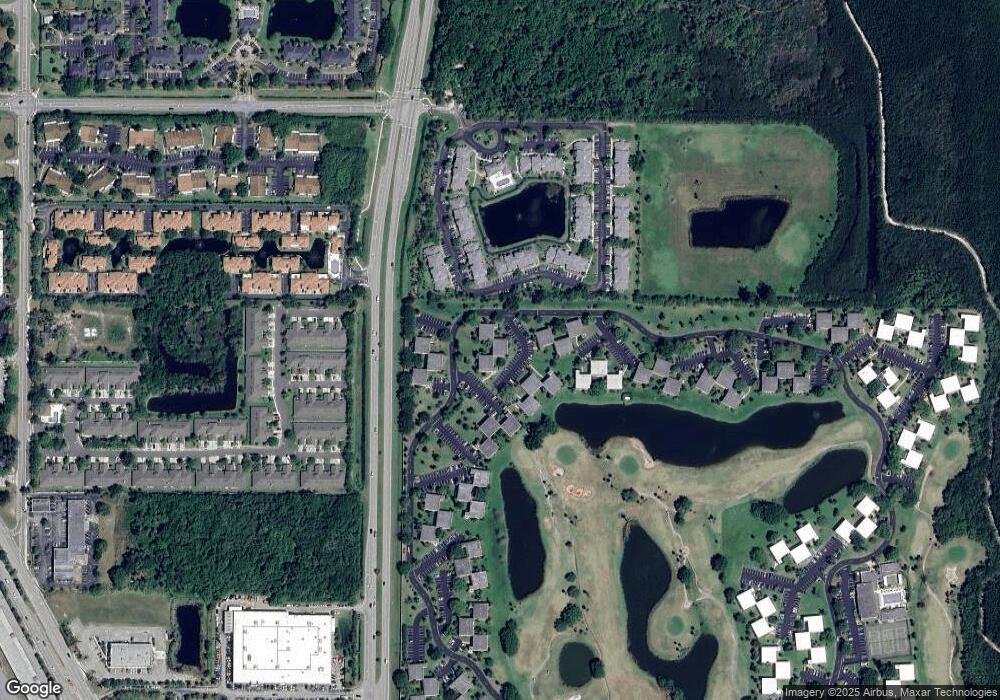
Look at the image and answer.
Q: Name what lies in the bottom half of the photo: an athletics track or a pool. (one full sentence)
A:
You can see a pool in the bottom half of the photo.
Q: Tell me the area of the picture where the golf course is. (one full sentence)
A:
The golf course sits in the bottom right section of the image.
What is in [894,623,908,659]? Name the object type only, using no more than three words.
tennis court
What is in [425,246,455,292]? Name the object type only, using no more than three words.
building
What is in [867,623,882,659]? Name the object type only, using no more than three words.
tennis court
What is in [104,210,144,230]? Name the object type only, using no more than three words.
house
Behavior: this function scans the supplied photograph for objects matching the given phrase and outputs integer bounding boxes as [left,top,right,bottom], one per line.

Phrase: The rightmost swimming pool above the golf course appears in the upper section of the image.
[491,173,514,190]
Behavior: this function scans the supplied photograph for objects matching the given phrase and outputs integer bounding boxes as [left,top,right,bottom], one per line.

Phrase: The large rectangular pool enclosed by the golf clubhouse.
[879,589,906,608]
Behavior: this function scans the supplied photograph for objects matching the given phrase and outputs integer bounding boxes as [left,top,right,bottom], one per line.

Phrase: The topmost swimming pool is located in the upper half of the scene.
[239,6,260,20]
